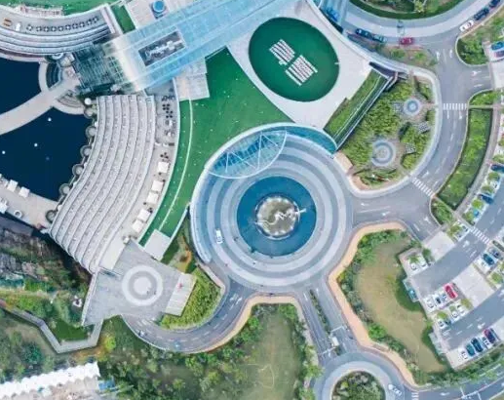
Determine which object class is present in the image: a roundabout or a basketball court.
roundabout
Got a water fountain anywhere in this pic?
Yes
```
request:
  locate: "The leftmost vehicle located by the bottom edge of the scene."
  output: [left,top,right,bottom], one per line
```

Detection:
[389,385,404,397]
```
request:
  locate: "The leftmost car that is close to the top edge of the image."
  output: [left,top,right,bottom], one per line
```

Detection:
[328,6,340,21]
